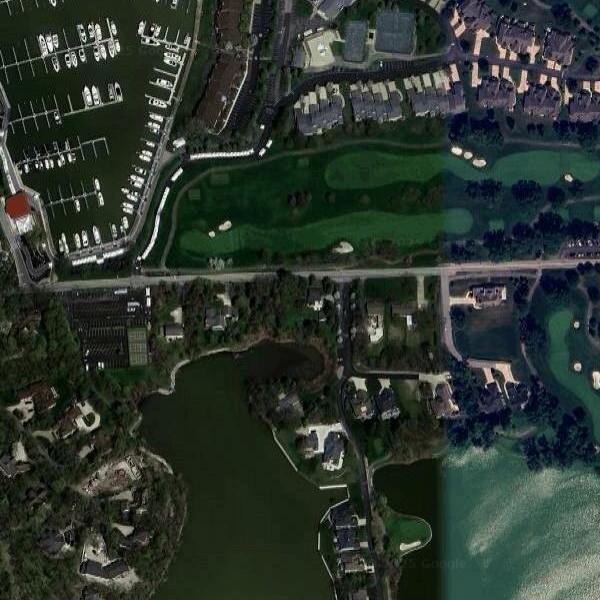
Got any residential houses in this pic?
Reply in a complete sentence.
Yes, there's a residential house here.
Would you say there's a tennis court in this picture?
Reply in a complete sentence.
Yes, the image includes a tennis court.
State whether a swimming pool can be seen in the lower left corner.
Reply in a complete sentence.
No, no swimming pool appears in the lower left corner.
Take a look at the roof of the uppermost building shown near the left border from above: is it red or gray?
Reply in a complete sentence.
The roof of the uppermost building shown near the left border looks red in the image.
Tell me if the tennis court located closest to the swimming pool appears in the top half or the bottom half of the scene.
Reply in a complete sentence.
It is in the top half that the tennis court located closest to the swimming pool appears.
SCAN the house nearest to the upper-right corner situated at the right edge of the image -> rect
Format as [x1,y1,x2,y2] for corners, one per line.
[542,29,578,64]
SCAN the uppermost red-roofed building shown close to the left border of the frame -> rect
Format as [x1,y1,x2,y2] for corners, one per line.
[5,193,28,219]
